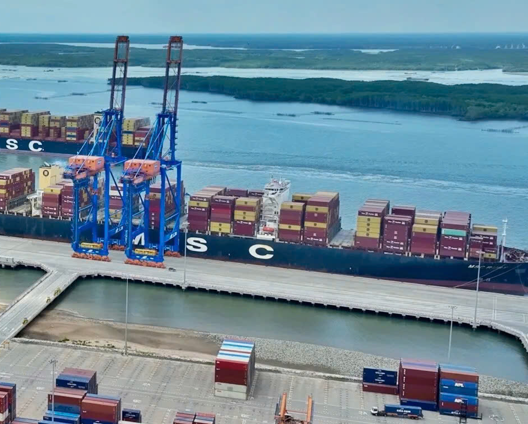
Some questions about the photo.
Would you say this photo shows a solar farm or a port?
port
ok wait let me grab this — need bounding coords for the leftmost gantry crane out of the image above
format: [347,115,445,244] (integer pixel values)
[62,31,131,262]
